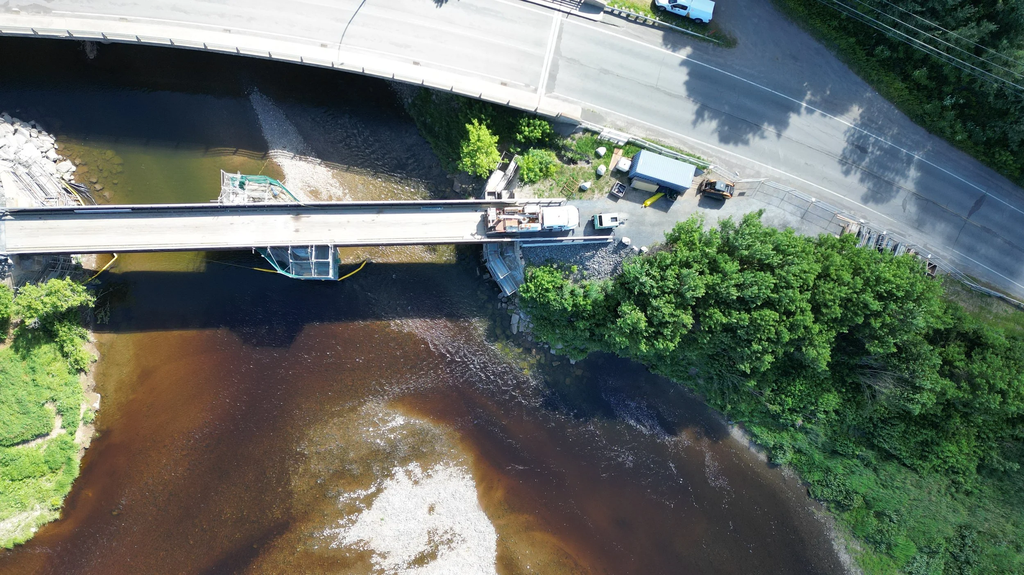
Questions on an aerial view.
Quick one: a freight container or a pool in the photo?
freight container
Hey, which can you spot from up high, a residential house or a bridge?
bridge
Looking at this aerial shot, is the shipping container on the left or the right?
right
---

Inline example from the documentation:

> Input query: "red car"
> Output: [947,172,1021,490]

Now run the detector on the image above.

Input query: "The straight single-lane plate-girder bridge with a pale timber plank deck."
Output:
[0,195,525,258]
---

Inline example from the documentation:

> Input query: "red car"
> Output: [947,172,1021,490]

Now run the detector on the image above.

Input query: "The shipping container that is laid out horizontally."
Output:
[630,149,705,191]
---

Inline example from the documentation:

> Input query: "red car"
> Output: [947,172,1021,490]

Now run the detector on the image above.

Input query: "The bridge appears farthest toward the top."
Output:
[0,0,607,127]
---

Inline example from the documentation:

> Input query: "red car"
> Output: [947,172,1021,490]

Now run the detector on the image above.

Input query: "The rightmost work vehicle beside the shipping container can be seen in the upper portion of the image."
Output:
[695,177,736,204]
